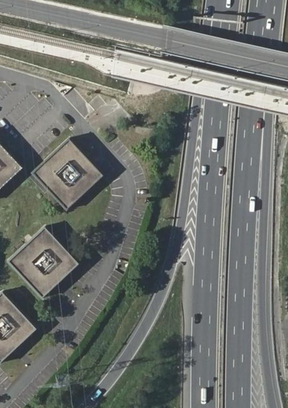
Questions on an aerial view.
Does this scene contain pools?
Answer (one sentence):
No, there appears to be no pool in this shot.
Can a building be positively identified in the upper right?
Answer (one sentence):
No, there's no building to be seen in the upper right.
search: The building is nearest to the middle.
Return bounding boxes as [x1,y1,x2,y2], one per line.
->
[32,138,106,211]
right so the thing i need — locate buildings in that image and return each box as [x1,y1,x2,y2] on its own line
[32,138,106,211]
[7,226,82,298]
[0,142,24,190]
[0,292,39,364]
